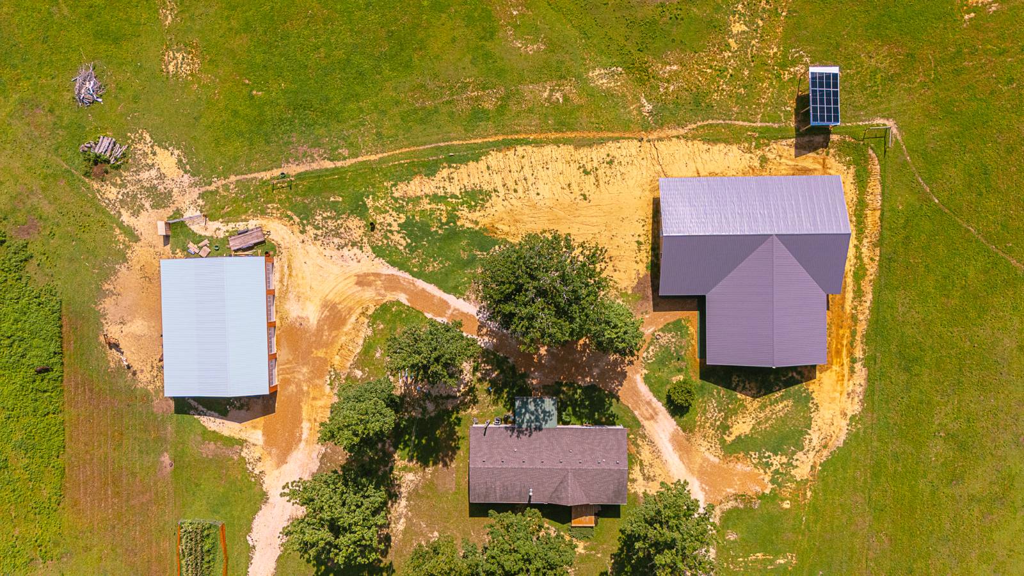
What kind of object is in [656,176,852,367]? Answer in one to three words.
barn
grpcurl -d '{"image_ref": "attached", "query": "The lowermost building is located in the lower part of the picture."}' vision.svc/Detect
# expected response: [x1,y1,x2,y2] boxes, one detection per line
[469,388,629,507]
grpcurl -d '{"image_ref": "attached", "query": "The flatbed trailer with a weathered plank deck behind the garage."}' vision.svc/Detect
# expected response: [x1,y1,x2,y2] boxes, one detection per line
[225,224,270,253]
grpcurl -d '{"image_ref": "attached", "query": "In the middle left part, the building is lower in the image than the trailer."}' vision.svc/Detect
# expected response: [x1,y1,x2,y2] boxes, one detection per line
[160,258,280,394]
